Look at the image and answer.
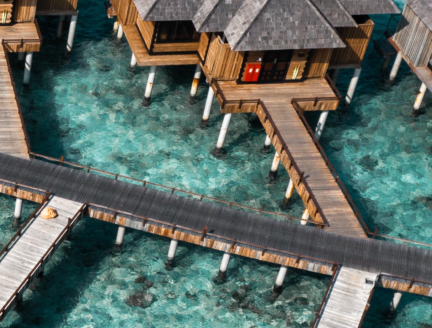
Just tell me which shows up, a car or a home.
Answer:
home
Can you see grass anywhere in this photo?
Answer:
No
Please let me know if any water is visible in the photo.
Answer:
Yes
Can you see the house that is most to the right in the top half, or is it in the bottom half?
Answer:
top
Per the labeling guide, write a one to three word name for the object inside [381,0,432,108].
house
